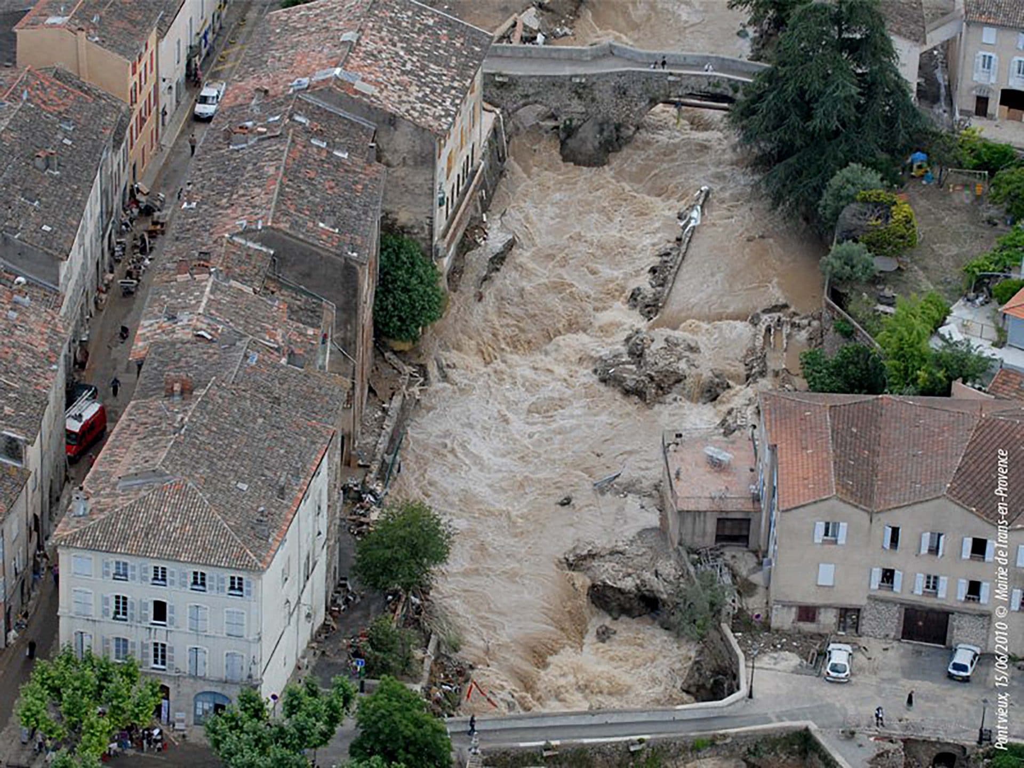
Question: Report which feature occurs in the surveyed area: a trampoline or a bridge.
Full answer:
This aerial view contains a bridge.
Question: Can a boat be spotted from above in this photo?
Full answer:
No, no boat can be seen from above.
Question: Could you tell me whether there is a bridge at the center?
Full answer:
No, there is no bridge at the center.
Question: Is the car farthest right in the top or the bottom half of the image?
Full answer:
The bottom half of the photo is where the car farthest right is.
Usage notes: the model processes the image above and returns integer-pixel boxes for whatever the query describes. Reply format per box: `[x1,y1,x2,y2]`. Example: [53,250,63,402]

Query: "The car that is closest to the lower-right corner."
[944,644,984,692]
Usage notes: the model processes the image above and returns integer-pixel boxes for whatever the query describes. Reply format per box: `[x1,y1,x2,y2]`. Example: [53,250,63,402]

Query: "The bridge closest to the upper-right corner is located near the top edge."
[489,38,791,141]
